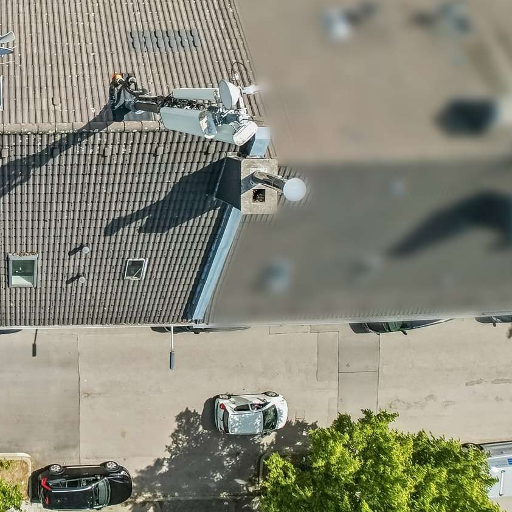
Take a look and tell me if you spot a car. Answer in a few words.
Yes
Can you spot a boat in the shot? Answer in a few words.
No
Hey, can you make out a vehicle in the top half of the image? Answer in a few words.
No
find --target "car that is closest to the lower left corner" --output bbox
[38,468,131,512]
